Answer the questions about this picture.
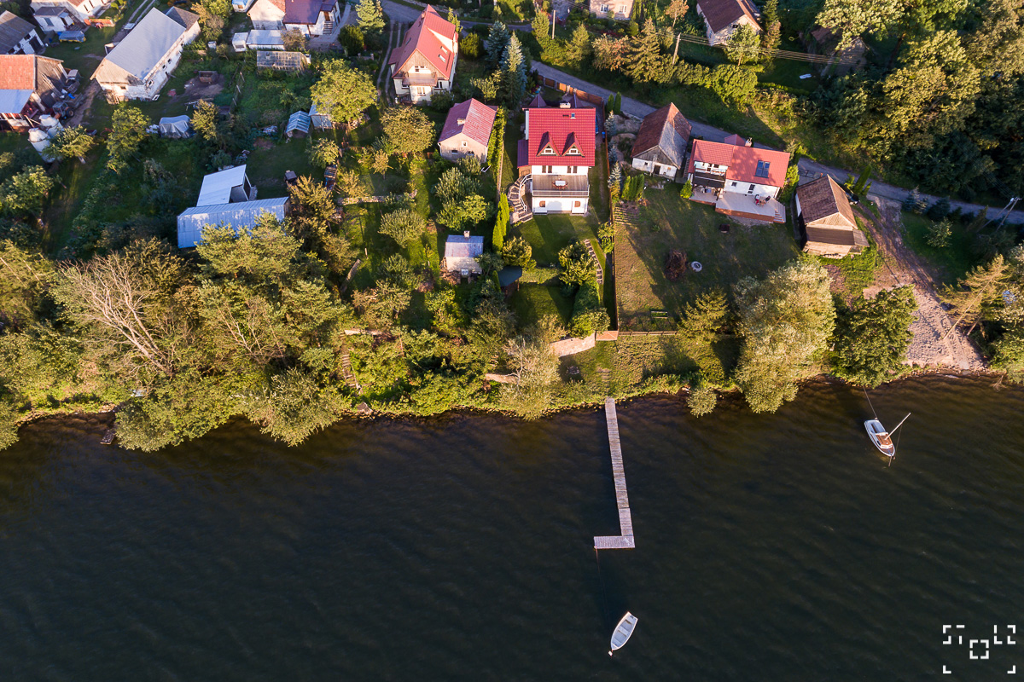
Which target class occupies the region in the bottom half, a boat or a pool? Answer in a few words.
boat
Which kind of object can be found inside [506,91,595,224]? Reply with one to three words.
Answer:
house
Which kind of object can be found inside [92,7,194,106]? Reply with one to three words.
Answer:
barn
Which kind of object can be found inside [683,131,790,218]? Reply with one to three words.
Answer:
house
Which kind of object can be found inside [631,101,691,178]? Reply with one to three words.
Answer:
barn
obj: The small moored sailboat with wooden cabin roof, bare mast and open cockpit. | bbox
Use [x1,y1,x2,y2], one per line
[864,408,903,465]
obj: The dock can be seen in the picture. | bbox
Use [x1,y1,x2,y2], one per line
[594,398,635,551]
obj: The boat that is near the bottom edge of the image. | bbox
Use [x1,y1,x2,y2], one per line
[612,611,639,651]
